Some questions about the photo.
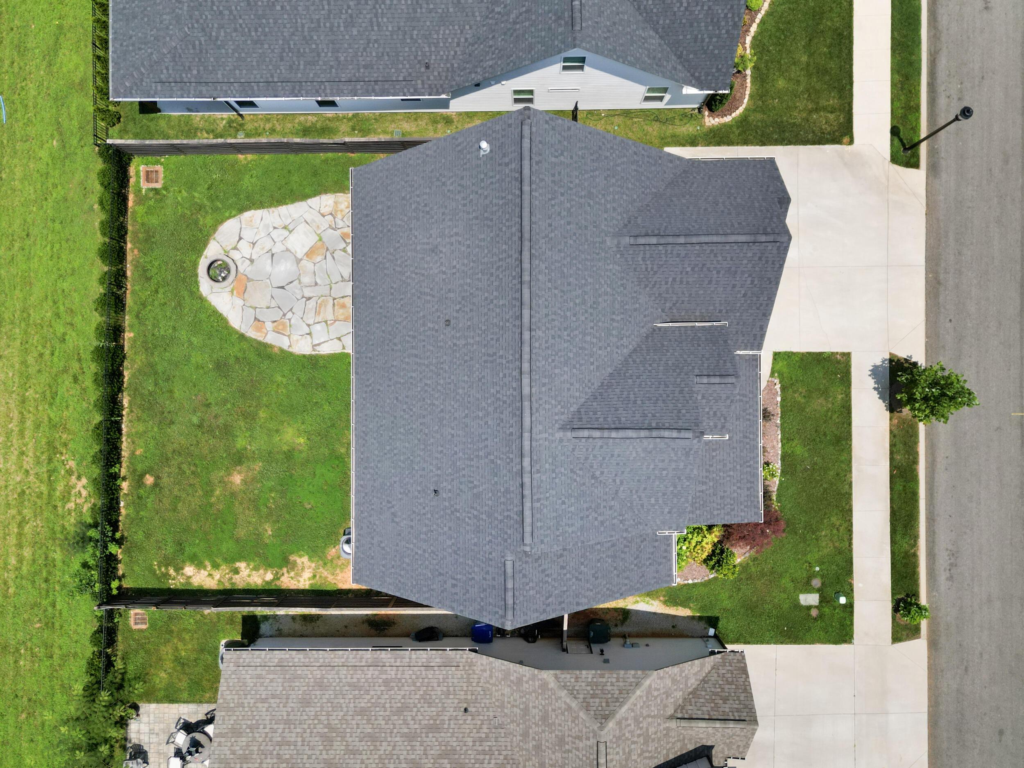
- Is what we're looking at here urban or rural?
urban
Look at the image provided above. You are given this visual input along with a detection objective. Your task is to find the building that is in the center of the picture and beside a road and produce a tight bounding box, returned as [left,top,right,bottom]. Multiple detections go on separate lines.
[351,107,793,631]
